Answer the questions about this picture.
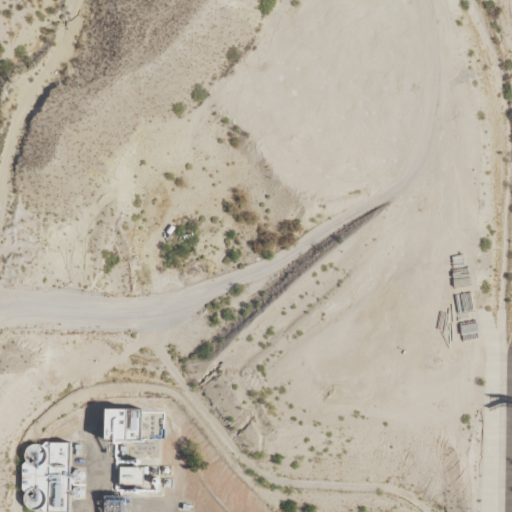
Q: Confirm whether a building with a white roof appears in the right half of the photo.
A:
No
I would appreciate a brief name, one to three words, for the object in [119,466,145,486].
building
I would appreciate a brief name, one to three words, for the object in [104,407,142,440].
building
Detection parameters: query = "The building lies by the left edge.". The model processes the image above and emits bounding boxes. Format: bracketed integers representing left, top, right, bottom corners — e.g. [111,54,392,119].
[22,440,73,512]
